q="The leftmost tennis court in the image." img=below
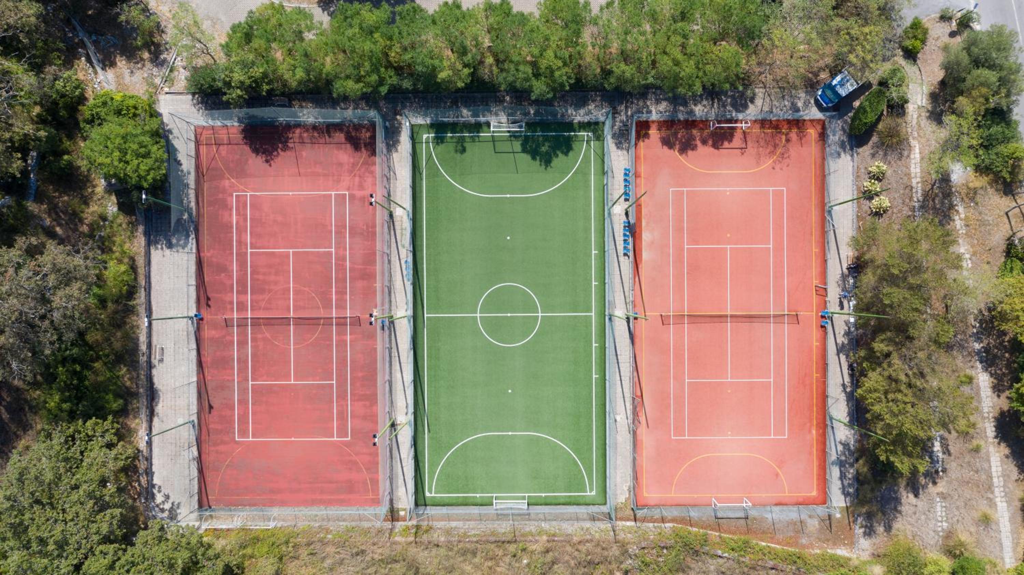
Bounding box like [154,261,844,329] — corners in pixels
[195,125,383,508]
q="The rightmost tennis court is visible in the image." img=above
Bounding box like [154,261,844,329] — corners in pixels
[635,119,828,506]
